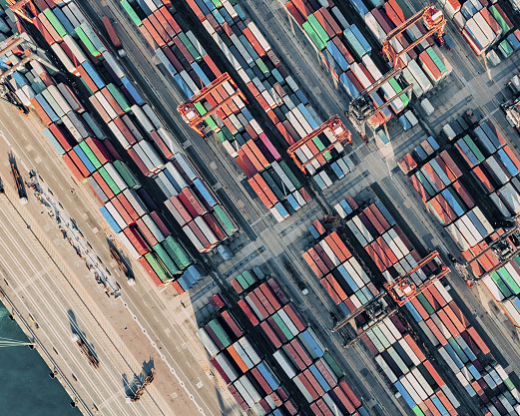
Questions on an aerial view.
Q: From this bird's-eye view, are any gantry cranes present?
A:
Yes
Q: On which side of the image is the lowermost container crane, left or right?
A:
right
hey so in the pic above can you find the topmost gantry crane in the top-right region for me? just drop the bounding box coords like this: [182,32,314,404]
[378,1,451,80]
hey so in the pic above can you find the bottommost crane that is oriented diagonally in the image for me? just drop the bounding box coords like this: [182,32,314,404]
[324,283,404,353]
